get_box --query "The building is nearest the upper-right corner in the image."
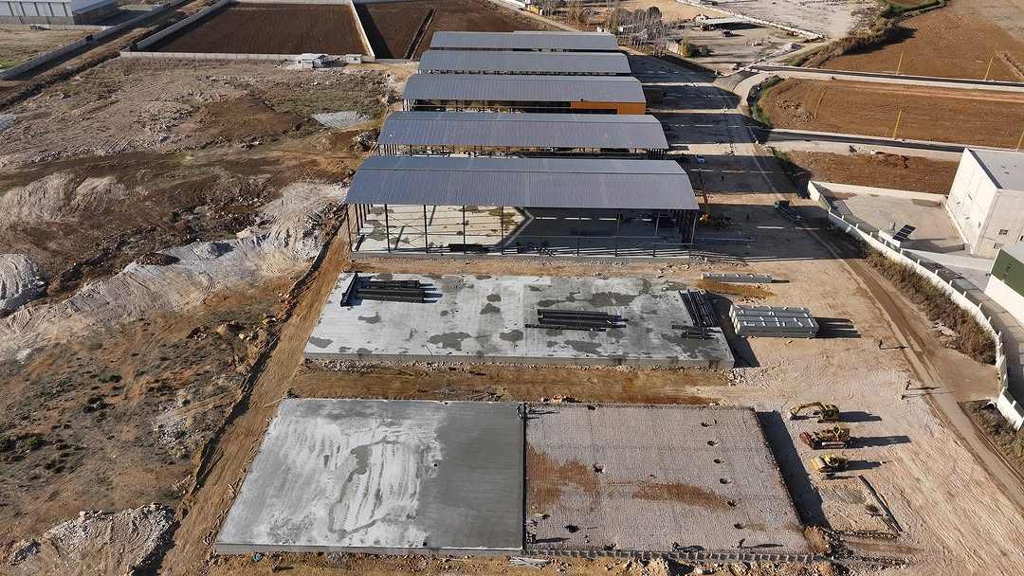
[948,144,1024,256]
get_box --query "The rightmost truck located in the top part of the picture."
[775,197,805,221]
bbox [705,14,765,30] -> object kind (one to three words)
barn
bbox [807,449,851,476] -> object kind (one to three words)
work vehicle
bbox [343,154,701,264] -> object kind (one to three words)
hangar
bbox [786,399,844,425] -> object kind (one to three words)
work vehicle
